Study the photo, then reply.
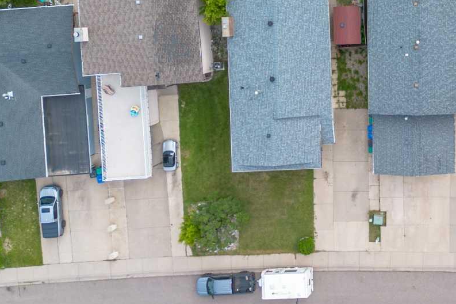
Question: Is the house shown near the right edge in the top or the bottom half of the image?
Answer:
top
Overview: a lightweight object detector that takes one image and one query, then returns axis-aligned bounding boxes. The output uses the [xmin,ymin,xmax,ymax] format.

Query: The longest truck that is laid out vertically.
[36,183,64,242]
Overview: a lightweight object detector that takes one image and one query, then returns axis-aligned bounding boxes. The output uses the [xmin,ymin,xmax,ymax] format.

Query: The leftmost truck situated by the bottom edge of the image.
[197,271,258,298]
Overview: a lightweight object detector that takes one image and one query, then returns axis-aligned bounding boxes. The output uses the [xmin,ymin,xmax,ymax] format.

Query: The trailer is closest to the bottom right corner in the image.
[258,268,313,301]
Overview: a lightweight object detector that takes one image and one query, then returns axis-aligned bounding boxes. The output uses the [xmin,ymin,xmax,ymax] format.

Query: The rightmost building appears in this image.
[366,0,456,176]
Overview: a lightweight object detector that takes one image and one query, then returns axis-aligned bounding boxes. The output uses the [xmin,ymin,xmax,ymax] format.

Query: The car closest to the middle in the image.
[159,140,180,170]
